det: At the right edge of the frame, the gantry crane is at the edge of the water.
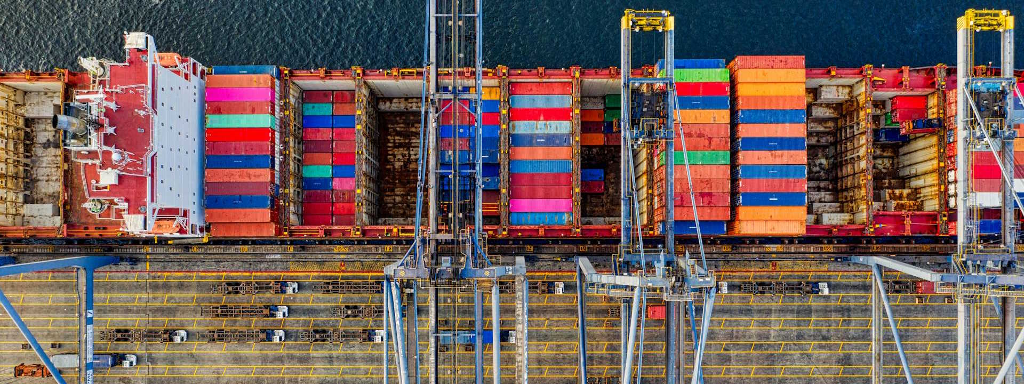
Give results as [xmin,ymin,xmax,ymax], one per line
[815,6,1024,384]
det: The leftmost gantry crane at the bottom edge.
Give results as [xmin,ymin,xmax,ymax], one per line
[0,256,156,384]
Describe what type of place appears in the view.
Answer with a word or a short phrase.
port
